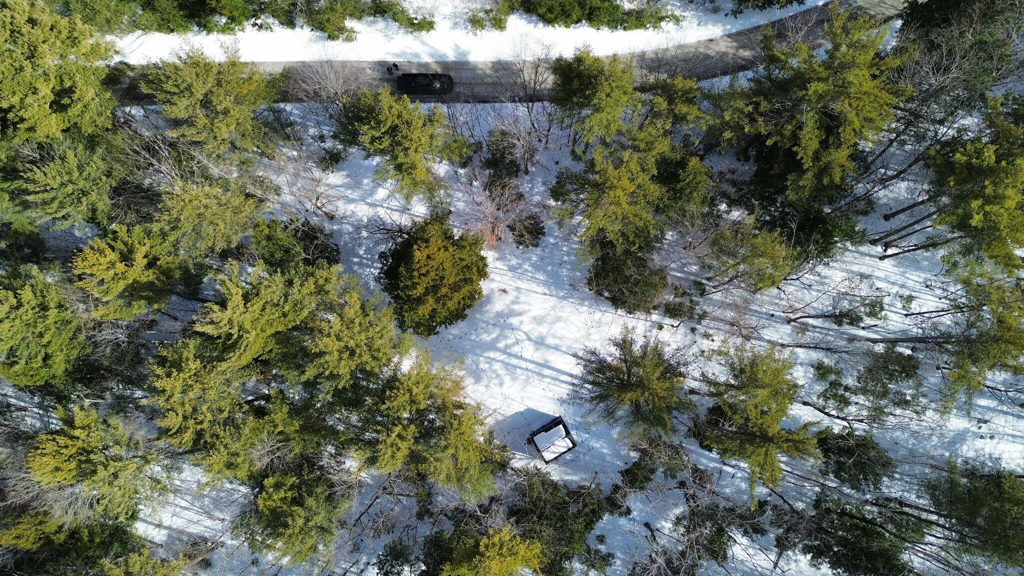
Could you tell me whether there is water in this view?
No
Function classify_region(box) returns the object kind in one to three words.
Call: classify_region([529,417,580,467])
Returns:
shed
